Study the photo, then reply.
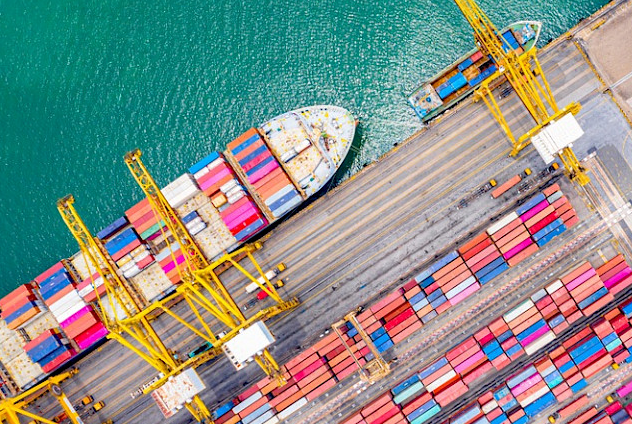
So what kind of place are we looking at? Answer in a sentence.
The area seen from above is a port.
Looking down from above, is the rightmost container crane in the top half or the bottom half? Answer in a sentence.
It is in the top half that the rightmost container crane appears.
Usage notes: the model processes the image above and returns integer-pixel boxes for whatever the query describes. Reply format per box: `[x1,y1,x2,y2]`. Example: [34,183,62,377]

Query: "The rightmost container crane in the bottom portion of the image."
[329,306,394,380]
